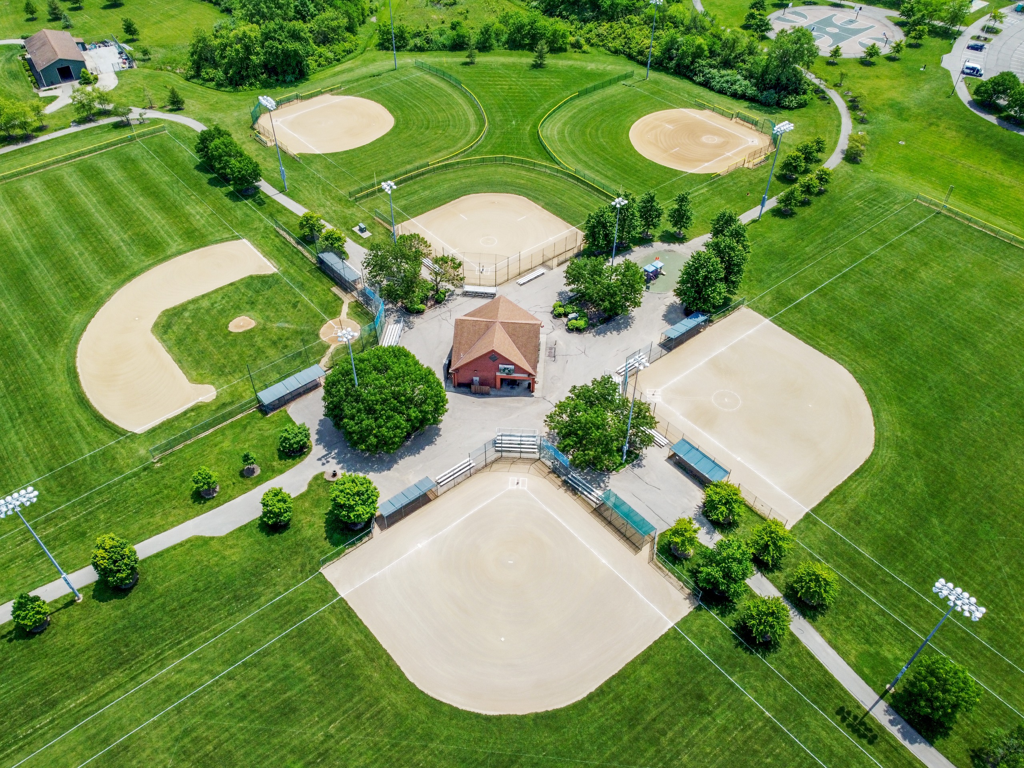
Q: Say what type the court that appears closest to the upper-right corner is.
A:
basketball court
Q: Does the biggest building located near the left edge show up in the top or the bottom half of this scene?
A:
top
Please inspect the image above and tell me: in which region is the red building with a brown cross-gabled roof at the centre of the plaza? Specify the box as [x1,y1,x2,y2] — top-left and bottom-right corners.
[451,295,542,392]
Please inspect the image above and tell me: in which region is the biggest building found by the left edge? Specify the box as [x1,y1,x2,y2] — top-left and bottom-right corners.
[23,29,89,87]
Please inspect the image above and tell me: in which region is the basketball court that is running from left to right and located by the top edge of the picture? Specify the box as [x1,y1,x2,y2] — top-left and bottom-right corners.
[767,6,906,58]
